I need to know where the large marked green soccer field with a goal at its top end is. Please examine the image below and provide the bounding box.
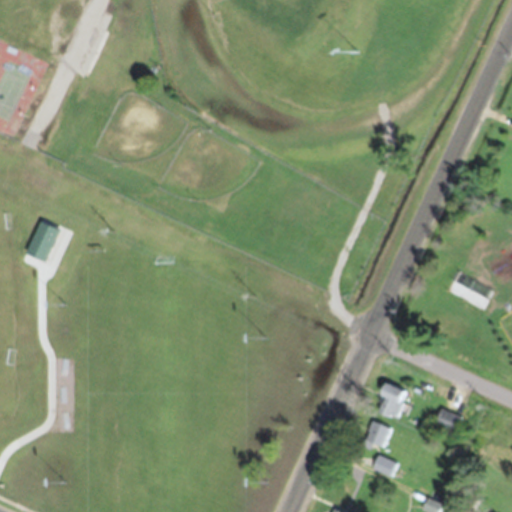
[88,264,248,512]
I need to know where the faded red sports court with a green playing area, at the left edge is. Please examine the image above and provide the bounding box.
[0,38,48,136]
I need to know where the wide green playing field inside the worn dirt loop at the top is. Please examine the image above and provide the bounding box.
[230,0,464,102]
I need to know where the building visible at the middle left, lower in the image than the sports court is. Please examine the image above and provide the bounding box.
[30,222,60,262]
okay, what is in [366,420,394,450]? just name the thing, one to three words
house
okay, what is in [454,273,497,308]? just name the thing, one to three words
shed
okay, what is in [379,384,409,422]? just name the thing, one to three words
house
